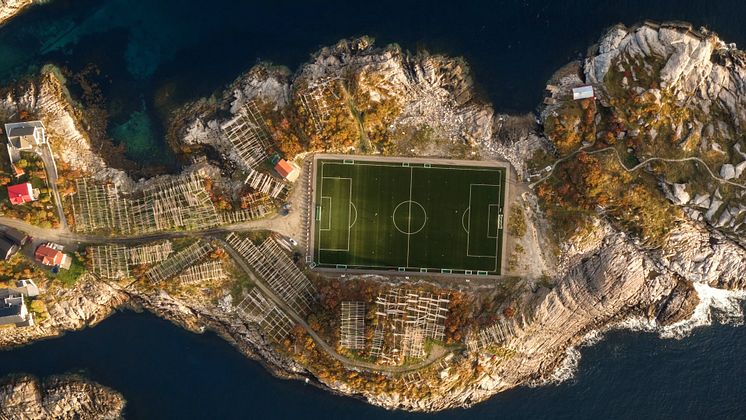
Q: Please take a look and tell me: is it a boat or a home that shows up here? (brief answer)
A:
home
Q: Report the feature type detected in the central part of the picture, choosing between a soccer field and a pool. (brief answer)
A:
soccer field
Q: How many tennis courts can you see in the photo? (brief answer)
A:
none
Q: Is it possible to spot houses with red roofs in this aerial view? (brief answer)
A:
Yes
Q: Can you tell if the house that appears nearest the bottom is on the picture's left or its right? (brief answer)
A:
left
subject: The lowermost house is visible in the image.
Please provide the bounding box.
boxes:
[0,288,35,330]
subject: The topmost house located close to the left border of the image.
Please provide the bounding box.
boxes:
[6,119,46,151]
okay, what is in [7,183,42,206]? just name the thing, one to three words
house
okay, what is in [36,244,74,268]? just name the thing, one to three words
house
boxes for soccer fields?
[309,155,514,280]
